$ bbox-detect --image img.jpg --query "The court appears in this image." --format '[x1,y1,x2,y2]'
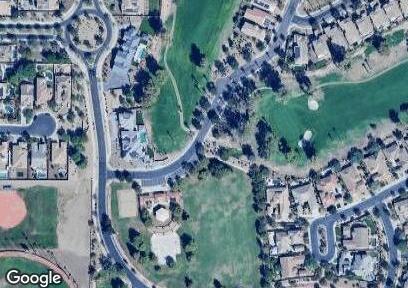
[118,189,138,218]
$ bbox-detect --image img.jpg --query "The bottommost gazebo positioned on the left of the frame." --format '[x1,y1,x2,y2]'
[156,208,169,223]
